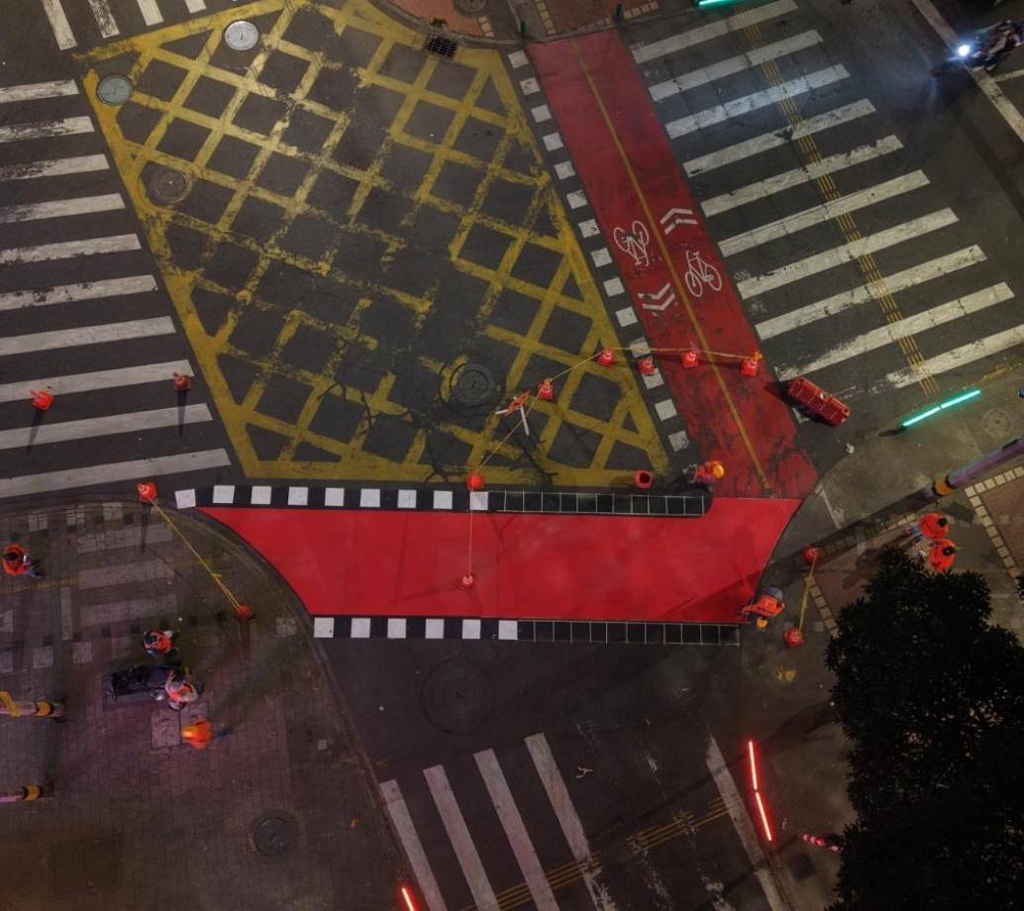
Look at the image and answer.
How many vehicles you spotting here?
2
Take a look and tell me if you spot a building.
No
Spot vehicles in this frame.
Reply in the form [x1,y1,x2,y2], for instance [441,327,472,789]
[108,651,195,718]
[945,22,1018,77]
